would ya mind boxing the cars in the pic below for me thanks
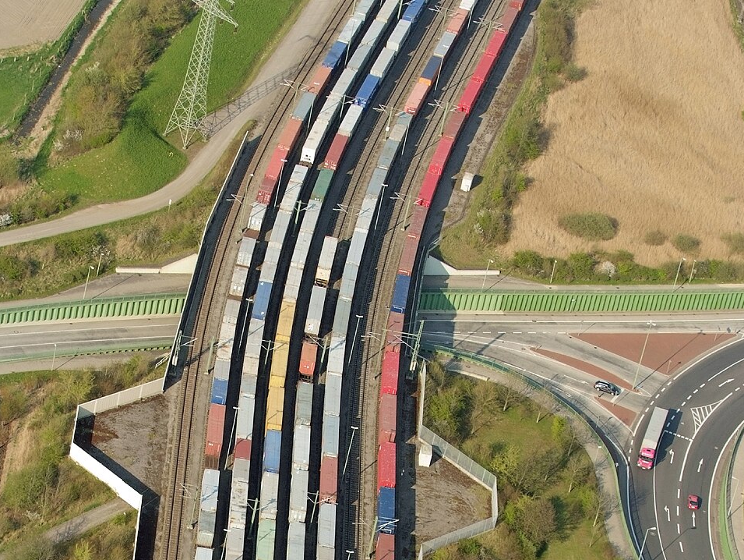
[688,492,700,508]
[594,380,621,395]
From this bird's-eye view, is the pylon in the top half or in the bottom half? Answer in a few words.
top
